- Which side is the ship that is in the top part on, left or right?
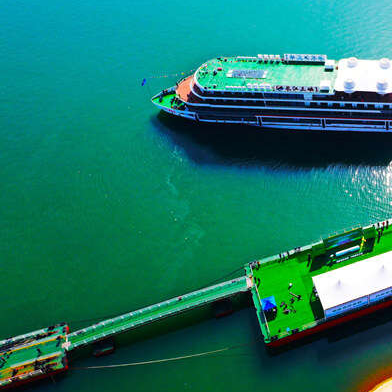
right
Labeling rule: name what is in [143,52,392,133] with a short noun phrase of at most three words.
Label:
ship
